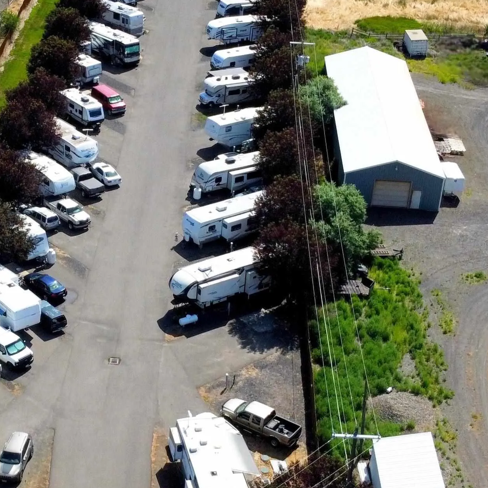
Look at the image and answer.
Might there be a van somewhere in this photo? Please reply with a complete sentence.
Yes, the photo shows a van.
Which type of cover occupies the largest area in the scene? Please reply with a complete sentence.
The scene is dominated by paved ground.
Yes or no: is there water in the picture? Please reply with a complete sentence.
No, the scene doesn't show any water.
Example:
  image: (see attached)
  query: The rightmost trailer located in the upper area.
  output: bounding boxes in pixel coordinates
[444,163,467,206]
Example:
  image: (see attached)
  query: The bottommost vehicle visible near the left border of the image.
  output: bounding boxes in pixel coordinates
[0,428,34,483]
